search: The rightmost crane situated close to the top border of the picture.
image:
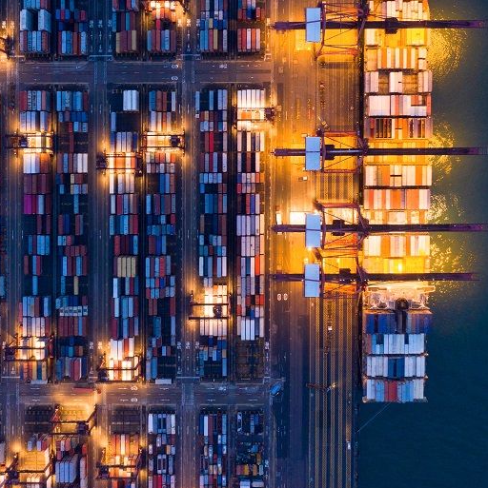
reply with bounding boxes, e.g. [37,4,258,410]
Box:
[273,3,488,59]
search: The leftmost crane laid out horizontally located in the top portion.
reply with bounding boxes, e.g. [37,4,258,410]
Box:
[2,132,54,151]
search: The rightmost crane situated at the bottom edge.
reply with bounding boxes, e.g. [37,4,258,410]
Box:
[95,449,141,481]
